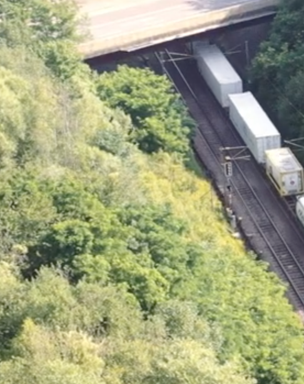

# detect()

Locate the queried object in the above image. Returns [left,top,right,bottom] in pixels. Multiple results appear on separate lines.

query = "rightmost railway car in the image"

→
[265,167,304,229]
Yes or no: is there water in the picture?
No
